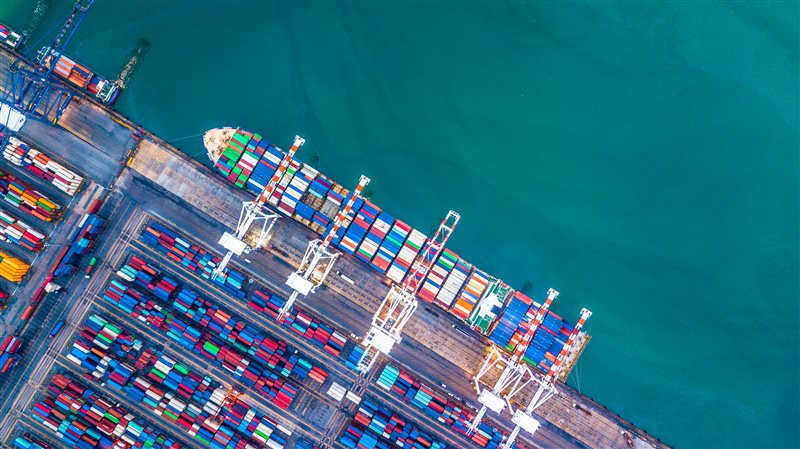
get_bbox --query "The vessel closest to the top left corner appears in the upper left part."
[0,19,34,54]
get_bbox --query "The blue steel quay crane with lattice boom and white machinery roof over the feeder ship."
[0,0,95,151]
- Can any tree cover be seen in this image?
No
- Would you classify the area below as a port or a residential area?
port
